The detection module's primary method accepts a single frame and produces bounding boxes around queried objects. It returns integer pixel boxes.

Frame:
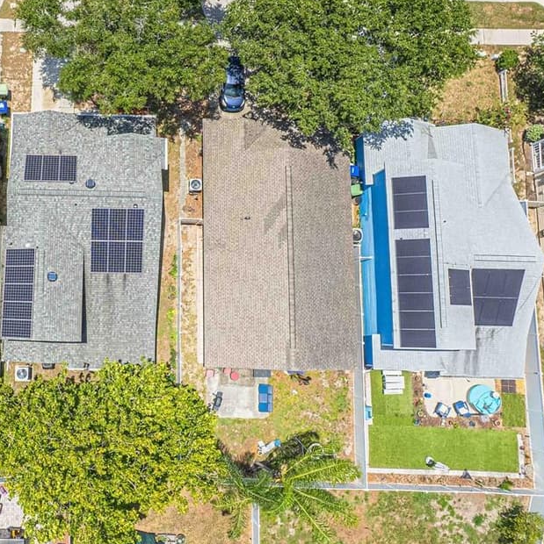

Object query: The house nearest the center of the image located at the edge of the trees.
[200,117,362,370]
